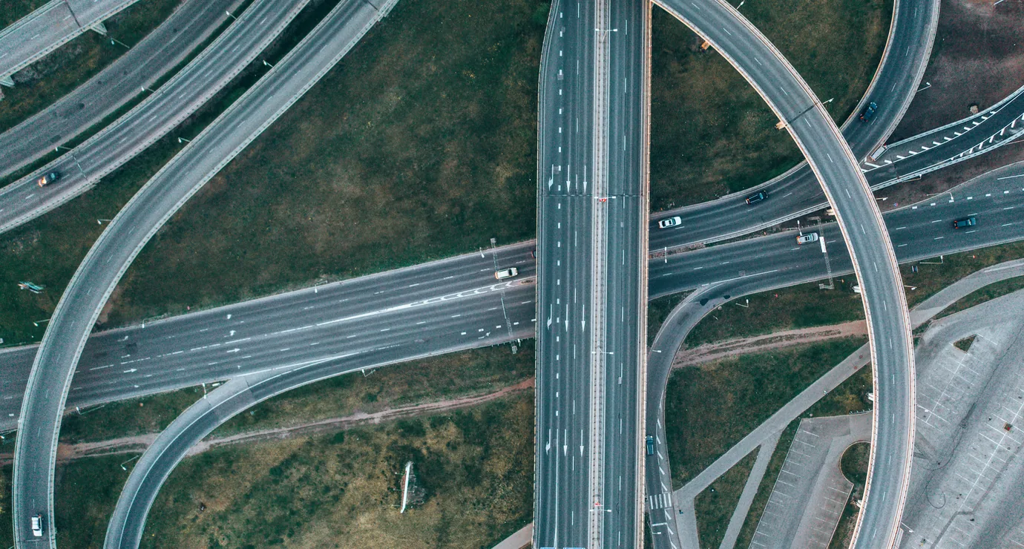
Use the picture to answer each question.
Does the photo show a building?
No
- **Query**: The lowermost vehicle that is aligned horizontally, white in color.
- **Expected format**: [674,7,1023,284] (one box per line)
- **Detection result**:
[494,267,519,279]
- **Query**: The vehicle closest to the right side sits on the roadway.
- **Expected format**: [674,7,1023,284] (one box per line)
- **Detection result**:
[952,217,976,229]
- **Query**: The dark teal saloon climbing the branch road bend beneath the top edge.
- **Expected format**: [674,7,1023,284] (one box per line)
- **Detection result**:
[859,102,876,123]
